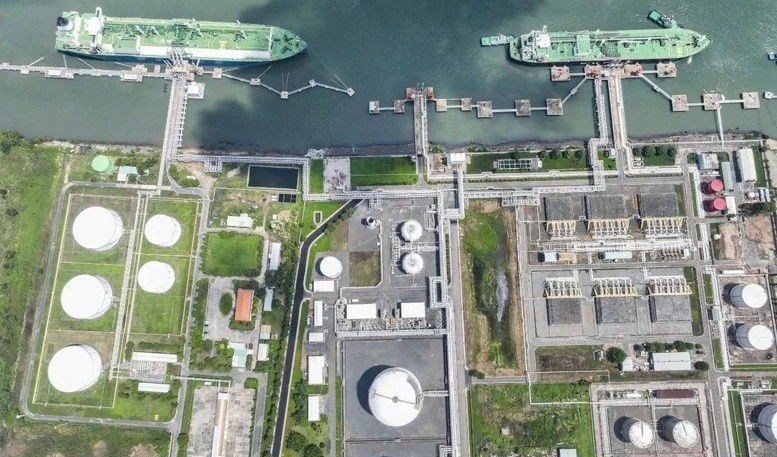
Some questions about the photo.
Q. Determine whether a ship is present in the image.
Yes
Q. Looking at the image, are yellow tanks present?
No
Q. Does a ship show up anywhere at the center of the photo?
No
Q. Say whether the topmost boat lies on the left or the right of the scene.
right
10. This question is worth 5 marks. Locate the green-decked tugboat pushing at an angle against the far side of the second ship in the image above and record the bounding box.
[644,8,676,28]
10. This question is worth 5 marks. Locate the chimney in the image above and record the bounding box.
[366,218,383,245]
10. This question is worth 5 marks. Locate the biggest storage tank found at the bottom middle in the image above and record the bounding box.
[368,365,423,426]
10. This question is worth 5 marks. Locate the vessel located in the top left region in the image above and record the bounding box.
[55,9,307,68]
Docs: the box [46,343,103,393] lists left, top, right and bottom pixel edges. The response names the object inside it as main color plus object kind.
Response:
white storage tank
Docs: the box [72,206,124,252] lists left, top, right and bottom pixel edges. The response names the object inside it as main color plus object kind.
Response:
white storage tank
